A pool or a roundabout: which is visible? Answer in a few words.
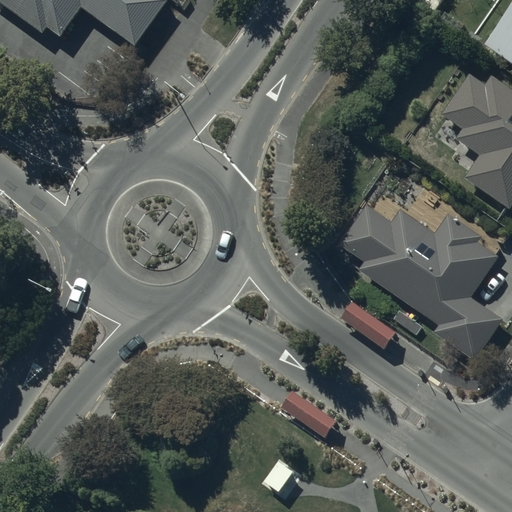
roundabout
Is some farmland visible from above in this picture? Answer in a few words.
No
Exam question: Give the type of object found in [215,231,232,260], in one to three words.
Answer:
car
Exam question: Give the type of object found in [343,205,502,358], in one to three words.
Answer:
house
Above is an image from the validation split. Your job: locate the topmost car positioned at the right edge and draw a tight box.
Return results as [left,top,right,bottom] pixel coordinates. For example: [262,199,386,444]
[480,270,506,301]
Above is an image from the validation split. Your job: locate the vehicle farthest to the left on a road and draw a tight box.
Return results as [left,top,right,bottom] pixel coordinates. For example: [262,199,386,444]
[66,276,86,312]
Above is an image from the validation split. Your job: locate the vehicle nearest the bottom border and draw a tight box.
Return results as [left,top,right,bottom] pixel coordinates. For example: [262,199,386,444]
[118,334,145,360]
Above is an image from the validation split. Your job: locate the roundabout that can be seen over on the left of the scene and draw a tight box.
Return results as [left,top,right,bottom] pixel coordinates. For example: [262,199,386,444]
[106,178,214,286]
